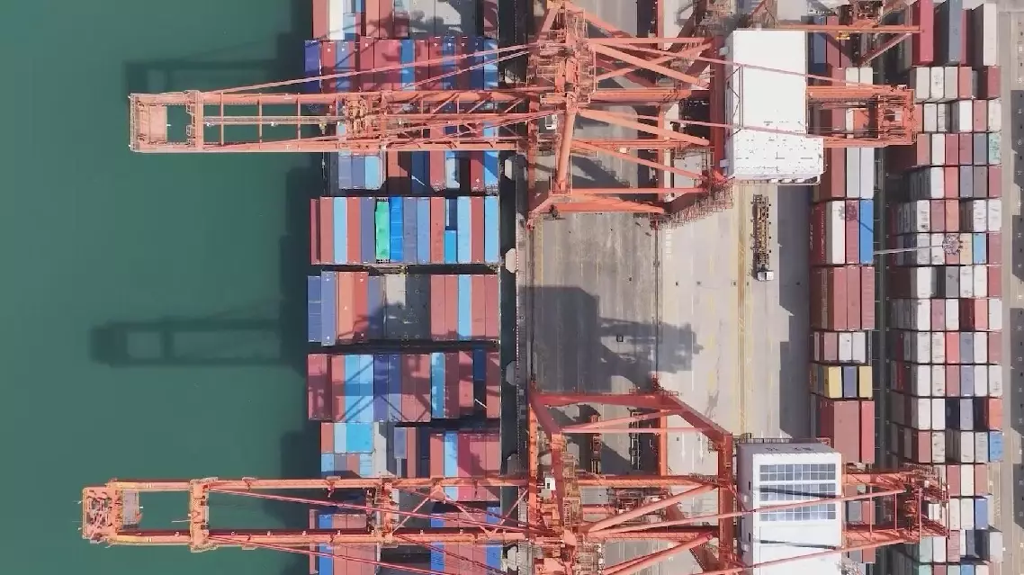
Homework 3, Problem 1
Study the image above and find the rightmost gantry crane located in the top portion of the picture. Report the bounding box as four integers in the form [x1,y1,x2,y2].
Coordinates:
[747,0,929,65]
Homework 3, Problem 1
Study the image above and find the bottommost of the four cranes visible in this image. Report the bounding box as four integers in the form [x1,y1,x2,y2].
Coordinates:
[77,374,952,575]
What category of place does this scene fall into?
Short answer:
port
